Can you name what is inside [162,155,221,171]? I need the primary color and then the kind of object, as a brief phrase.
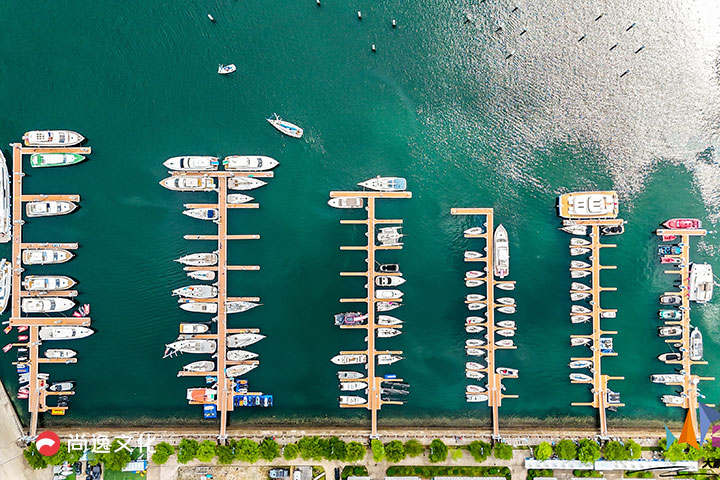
white boat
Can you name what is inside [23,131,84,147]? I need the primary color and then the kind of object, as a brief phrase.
white boat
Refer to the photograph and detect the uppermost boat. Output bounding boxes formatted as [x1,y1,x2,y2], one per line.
[217,61,236,74]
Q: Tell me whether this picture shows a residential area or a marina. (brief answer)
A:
marina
